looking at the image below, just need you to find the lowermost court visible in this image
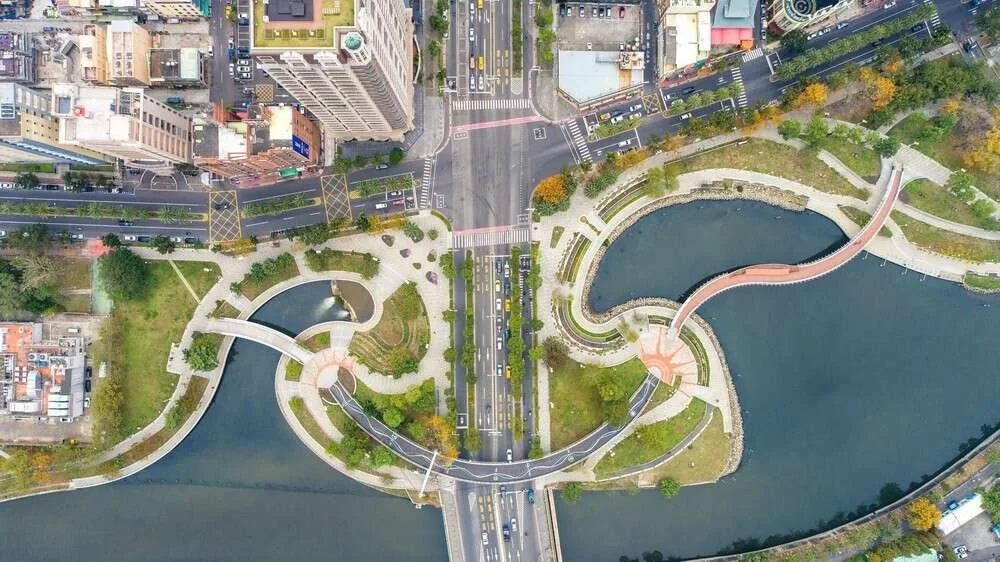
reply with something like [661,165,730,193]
[92,257,113,312]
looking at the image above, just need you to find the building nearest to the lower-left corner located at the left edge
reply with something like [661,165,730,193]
[0,322,85,416]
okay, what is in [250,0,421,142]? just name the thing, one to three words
building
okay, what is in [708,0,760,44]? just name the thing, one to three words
house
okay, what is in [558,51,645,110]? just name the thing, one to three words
building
